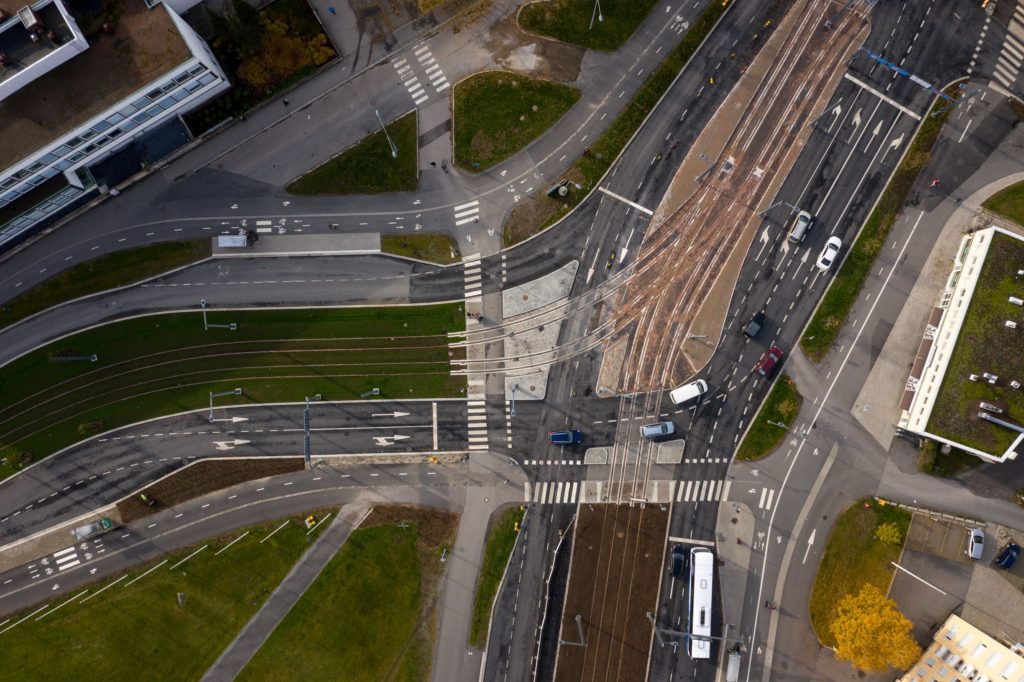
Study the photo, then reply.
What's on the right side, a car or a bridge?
car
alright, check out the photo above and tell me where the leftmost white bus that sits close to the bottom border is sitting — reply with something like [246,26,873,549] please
[686,546,714,658]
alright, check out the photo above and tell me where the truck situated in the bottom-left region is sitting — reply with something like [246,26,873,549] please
[71,517,112,541]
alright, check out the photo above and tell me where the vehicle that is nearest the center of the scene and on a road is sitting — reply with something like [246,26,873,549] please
[549,429,581,446]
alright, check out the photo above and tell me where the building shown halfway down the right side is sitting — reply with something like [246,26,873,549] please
[897,227,1024,462]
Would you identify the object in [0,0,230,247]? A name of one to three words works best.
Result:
building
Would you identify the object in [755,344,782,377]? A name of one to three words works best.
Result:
car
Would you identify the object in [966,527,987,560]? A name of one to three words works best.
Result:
car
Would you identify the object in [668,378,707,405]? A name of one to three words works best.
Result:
vehicle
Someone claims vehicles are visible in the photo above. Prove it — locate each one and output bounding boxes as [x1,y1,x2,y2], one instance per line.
[71,517,112,541]
[815,235,843,271]
[686,546,714,658]
[966,527,987,560]
[549,429,581,446]
[640,421,674,437]
[755,344,782,377]
[739,310,767,339]
[668,378,707,405]
[669,543,686,577]
[993,541,1022,571]
[787,211,811,246]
